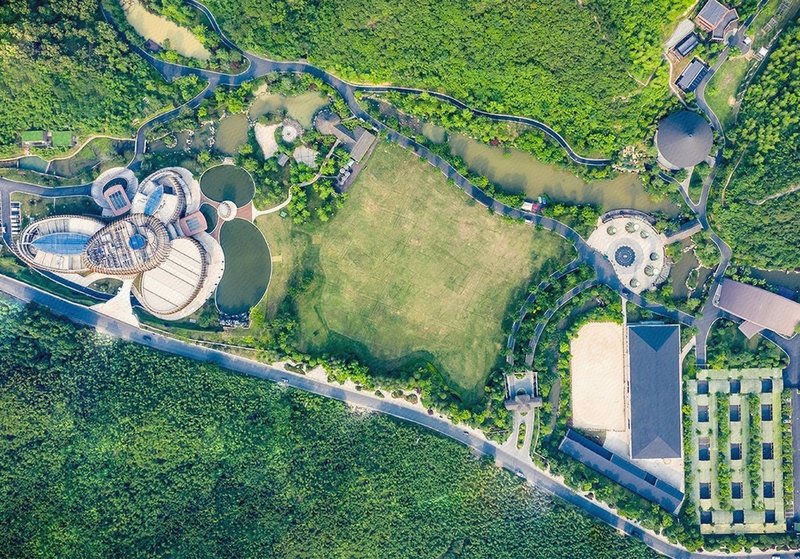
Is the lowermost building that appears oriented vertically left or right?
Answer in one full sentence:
It is on the right.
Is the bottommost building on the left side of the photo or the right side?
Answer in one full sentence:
It is on the right.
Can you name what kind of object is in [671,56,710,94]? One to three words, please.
house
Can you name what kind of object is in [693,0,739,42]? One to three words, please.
house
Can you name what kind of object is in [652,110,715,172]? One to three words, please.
building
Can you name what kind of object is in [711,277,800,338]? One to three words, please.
building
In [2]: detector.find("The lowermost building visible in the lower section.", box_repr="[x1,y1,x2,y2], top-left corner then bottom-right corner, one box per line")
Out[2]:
[559,429,684,511]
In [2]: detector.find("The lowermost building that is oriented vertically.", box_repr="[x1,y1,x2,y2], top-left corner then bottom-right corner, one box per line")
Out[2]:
[627,322,681,458]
